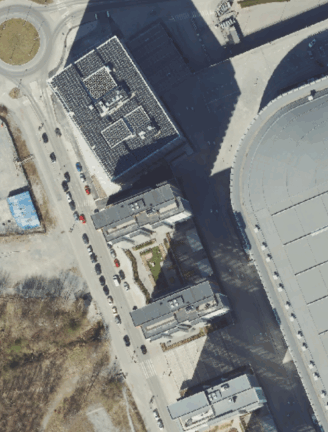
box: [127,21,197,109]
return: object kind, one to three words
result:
building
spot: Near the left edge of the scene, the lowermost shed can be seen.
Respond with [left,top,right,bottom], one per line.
[8,192,41,229]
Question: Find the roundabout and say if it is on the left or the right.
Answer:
left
